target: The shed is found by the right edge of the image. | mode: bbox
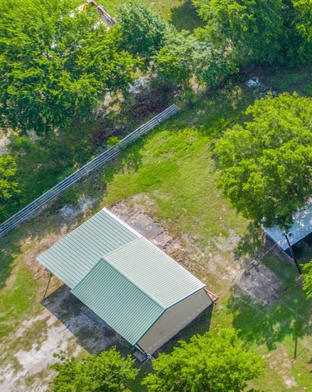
[260,197,312,261]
